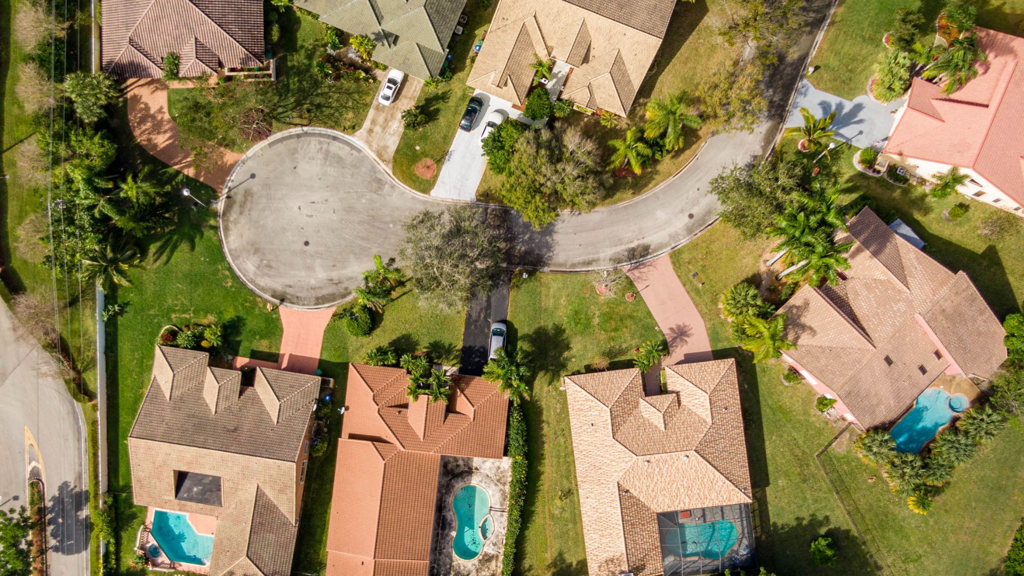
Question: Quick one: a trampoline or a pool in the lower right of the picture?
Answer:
pool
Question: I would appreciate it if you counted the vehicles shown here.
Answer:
four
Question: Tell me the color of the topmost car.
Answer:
white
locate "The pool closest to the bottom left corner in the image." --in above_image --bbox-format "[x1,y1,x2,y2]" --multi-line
[148,508,215,568]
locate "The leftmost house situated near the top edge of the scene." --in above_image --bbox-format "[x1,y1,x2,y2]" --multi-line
[101,0,268,87]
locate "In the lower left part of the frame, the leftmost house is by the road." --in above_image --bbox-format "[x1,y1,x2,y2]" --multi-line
[127,345,323,576]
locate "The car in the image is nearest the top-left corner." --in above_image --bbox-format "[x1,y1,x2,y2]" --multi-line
[375,69,406,107]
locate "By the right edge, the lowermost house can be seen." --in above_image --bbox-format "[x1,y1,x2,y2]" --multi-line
[770,205,1007,432]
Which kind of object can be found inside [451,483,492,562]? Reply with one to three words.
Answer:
swimming pool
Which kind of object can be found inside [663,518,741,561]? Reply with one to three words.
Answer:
swimming pool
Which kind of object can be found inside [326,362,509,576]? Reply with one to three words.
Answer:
house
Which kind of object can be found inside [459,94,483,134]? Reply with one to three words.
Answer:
car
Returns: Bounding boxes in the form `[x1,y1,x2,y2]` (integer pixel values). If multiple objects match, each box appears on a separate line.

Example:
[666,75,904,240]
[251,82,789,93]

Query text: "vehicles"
[478,112,505,151]
[459,94,483,134]
[375,69,406,107]
[487,322,507,363]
